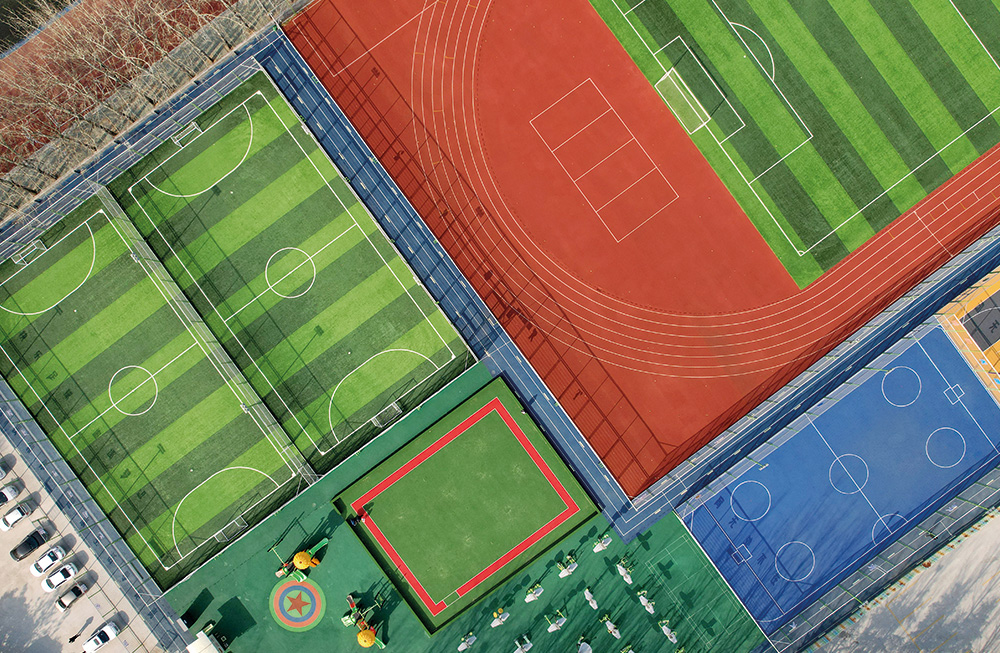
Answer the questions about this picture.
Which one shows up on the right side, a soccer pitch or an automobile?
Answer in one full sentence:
Looking on the right side, you will find a soccer pitch.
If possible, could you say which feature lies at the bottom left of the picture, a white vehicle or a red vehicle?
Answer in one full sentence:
What appears at the bottom left of the picture is a white vehicle.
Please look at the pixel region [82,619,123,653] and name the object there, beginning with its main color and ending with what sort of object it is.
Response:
white car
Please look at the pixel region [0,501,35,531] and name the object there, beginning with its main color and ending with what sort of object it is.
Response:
white car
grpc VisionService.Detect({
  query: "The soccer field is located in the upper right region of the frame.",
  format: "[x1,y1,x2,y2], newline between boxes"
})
[589,0,1000,289]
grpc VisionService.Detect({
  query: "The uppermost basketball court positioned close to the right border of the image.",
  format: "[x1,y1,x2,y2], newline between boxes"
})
[936,266,1000,403]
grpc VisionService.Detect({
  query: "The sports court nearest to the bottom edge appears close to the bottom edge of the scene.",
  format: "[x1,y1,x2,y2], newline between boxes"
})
[646,535,751,649]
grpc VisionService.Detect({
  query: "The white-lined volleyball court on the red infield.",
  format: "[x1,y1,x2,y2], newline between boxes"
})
[529,78,680,242]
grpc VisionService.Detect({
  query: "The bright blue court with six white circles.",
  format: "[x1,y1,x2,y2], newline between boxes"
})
[682,317,1000,634]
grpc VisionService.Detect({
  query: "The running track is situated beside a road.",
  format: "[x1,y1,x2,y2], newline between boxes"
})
[277,0,1000,498]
